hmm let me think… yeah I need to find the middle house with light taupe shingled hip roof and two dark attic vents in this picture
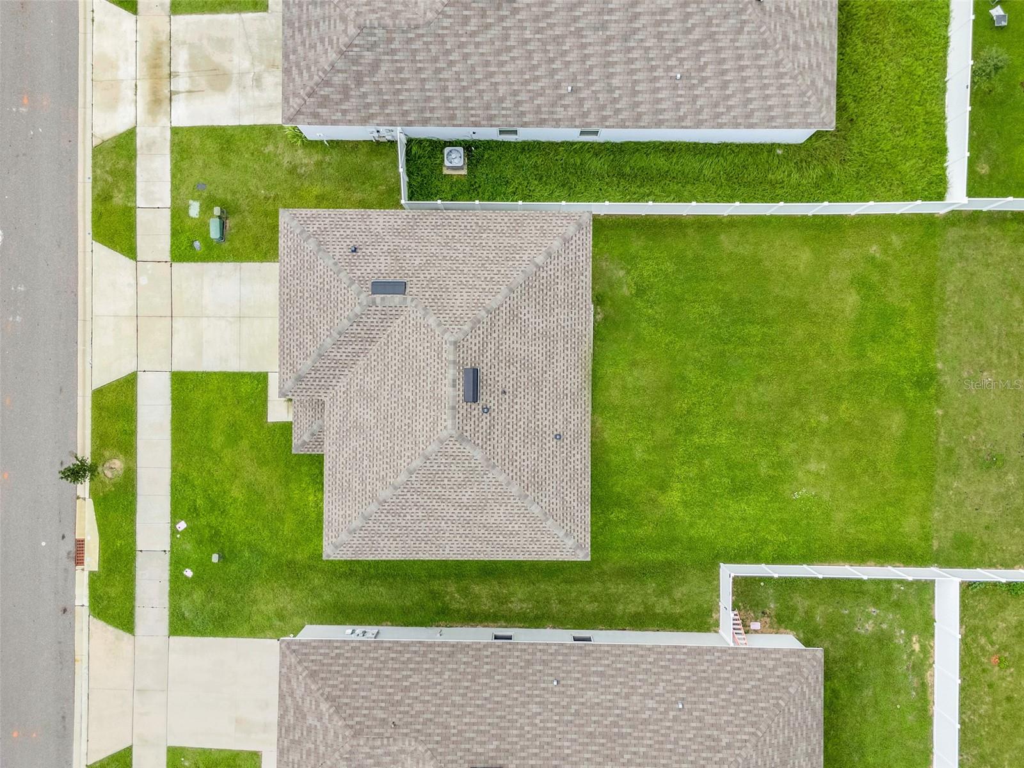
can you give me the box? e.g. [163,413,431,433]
[279,209,593,561]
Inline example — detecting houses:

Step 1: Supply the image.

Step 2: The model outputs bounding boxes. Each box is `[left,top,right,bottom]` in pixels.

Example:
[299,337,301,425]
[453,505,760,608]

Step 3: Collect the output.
[277,625,824,768]
[279,209,593,561]
[282,0,838,143]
